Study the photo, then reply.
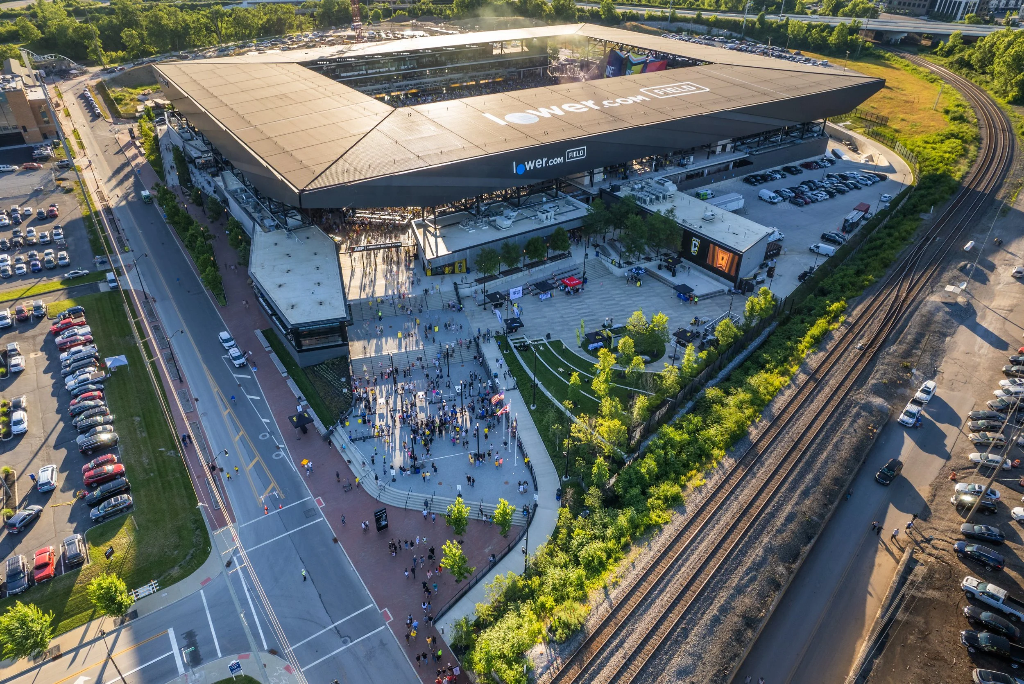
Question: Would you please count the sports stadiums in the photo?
1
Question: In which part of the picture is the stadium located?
top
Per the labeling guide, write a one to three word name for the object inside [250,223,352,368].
building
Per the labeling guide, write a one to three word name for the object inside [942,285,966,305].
shed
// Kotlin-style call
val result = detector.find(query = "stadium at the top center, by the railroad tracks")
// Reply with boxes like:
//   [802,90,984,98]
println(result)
[150,23,886,229]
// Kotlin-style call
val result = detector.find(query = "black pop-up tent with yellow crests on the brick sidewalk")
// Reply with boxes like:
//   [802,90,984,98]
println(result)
[285,413,315,444]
